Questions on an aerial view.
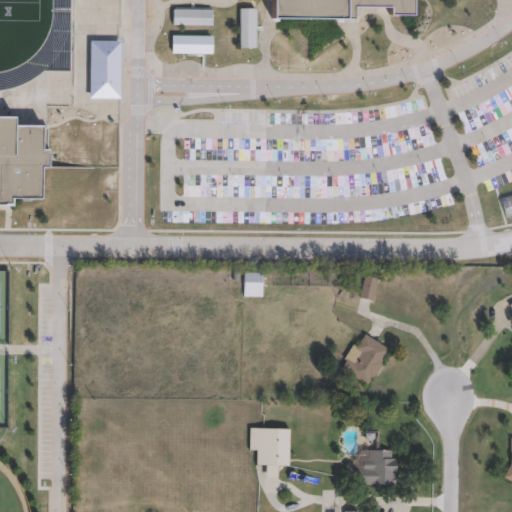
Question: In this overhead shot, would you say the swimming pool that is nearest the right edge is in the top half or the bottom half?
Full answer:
It is in the bottom half that the swimming pool that is nearest the right edge appears.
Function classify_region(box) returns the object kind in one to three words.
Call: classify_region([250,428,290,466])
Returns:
house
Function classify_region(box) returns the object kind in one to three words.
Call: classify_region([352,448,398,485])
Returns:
house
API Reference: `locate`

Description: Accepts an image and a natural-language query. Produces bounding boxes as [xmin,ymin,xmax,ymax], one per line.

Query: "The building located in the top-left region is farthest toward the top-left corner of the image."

[91,40,121,98]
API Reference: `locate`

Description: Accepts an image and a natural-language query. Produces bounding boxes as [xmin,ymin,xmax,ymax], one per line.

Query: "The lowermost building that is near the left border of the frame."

[0,117,51,206]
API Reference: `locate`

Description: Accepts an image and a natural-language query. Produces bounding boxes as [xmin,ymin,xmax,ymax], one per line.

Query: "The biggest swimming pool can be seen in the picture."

[340,426,366,458]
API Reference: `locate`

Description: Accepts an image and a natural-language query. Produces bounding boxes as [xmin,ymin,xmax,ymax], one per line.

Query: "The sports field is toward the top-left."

[0,0,53,72]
